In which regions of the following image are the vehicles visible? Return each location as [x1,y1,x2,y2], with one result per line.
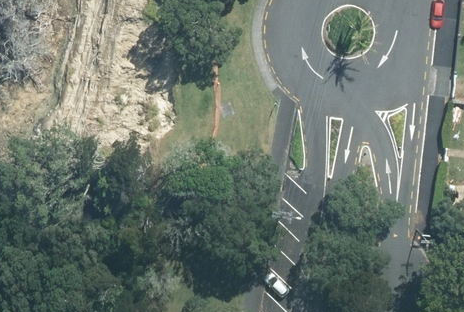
[430,0,445,29]
[266,274,291,298]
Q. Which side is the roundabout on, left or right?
right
